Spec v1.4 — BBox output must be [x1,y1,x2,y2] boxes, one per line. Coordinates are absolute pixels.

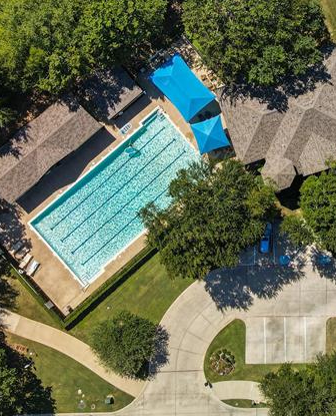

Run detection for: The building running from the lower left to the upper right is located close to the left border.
[0,103,104,203]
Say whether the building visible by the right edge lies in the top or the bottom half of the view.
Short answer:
top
